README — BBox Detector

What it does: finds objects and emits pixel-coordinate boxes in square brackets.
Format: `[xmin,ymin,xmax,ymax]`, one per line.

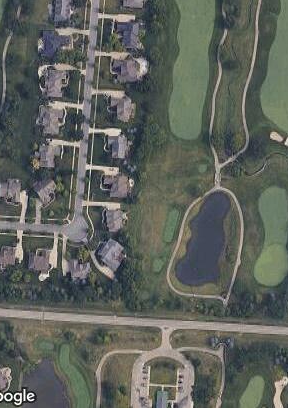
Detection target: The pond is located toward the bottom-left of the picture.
[17,359,72,408]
